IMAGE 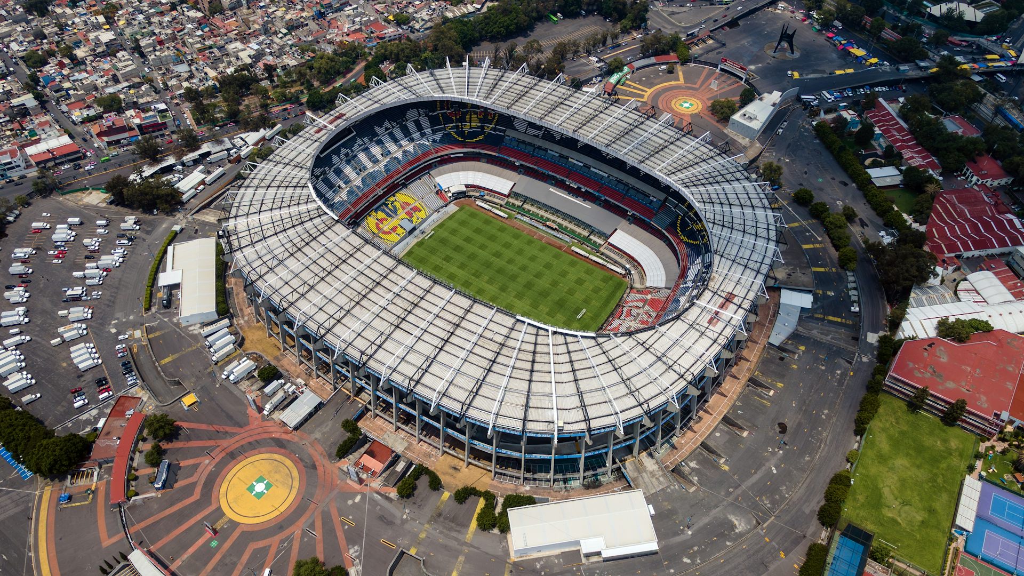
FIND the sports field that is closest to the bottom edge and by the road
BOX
[840,393,975,576]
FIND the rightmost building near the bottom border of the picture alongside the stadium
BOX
[507,488,657,558]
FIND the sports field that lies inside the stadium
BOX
[400,204,630,335]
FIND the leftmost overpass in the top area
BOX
[704,0,775,32]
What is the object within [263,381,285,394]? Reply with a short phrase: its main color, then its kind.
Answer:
white vehicle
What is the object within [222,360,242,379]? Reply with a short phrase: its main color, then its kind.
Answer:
white vehicle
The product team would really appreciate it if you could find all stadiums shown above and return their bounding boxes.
[215,55,786,484]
